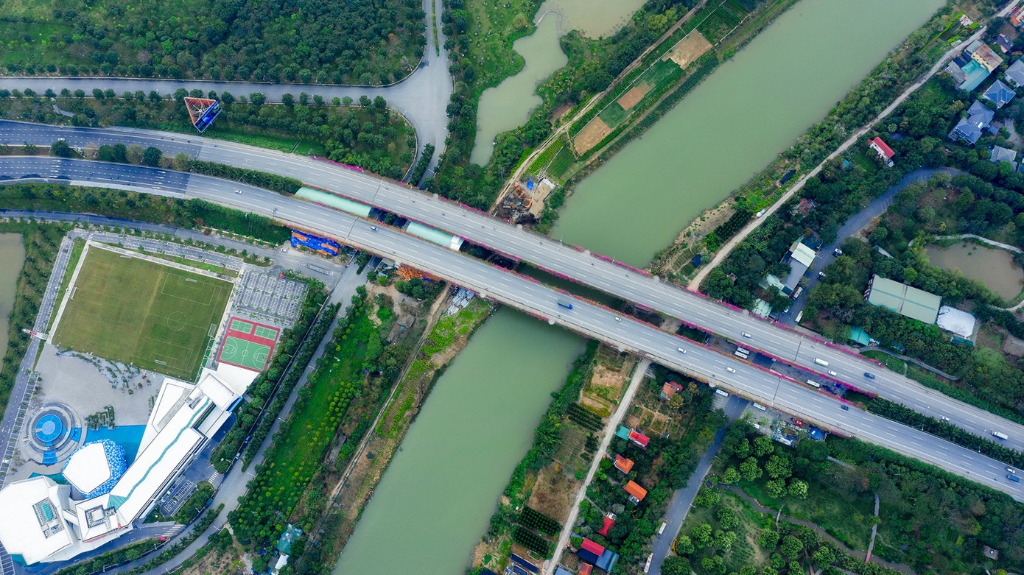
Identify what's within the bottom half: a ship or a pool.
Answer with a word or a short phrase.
pool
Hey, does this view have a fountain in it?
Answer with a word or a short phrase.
Yes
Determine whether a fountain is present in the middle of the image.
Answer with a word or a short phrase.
No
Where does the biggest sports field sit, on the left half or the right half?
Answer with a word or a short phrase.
left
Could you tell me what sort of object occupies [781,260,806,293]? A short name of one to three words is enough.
building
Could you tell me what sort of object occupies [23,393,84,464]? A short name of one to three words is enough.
fountain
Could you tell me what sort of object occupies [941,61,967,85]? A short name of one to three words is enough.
house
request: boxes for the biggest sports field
[47,241,239,383]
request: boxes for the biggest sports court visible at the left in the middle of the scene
[217,316,280,371]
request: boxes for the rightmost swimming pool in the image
[83,425,146,471]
